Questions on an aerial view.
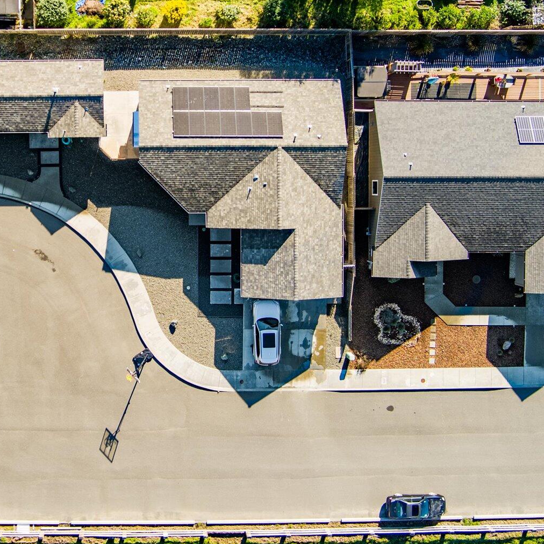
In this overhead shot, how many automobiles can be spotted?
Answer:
two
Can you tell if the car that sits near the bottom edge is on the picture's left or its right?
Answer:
right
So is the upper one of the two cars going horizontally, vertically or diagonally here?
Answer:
vertically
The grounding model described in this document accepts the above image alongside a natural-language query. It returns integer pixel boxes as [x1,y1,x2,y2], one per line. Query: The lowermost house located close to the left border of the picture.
[0,57,107,137]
